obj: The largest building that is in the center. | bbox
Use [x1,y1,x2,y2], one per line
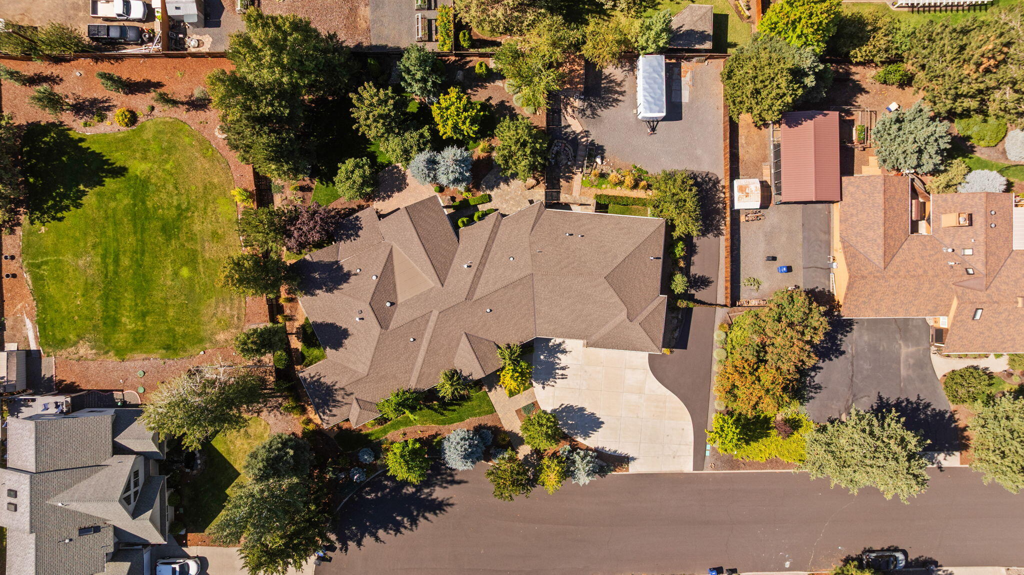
[286,194,667,429]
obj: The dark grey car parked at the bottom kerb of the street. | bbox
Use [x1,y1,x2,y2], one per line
[865,552,910,575]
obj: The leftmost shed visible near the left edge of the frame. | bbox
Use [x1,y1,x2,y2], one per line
[0,343,38,392]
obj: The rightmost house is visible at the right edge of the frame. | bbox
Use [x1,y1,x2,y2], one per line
[830,175,1024,354]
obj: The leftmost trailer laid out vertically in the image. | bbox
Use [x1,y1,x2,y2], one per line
[633,56,664,139]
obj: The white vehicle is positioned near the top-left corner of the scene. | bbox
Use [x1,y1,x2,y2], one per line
[85,0,146,23]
